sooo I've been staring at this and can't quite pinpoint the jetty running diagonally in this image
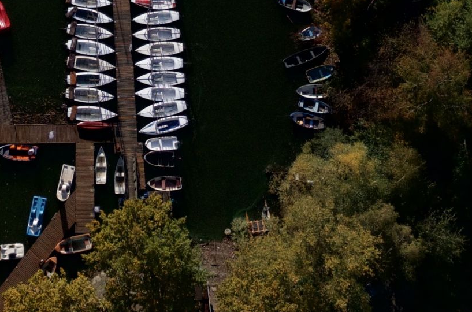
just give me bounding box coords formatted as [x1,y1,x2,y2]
[0,192,75,312]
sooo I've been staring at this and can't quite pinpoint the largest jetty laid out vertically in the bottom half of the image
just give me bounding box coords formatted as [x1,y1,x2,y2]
[75,143,95,233]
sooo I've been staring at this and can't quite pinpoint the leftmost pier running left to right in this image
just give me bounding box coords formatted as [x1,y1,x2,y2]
[0,123,78,144]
